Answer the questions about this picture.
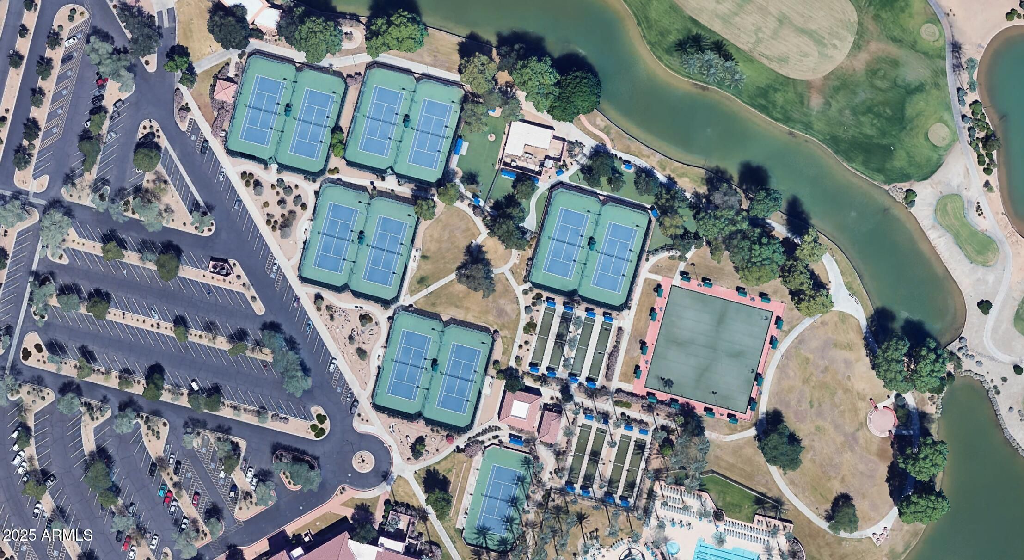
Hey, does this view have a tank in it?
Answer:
No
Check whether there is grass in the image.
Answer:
Yes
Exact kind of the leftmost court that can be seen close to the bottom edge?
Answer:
tennis court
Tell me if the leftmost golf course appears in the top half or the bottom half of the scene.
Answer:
top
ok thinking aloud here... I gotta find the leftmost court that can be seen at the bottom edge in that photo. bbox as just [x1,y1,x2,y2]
[463,447,535,553]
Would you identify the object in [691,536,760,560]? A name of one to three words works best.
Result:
swimming pool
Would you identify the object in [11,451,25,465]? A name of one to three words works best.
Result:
car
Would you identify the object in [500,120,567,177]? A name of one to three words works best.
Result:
building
